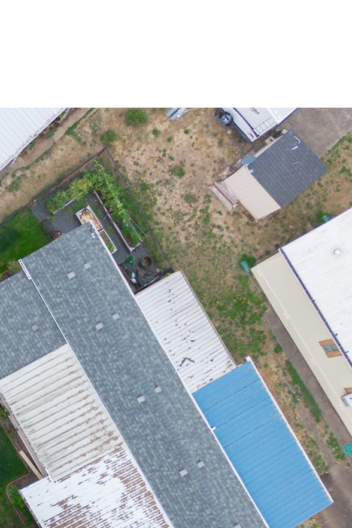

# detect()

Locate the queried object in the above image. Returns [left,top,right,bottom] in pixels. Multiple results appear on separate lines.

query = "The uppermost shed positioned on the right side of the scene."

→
[228,130,325,217]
